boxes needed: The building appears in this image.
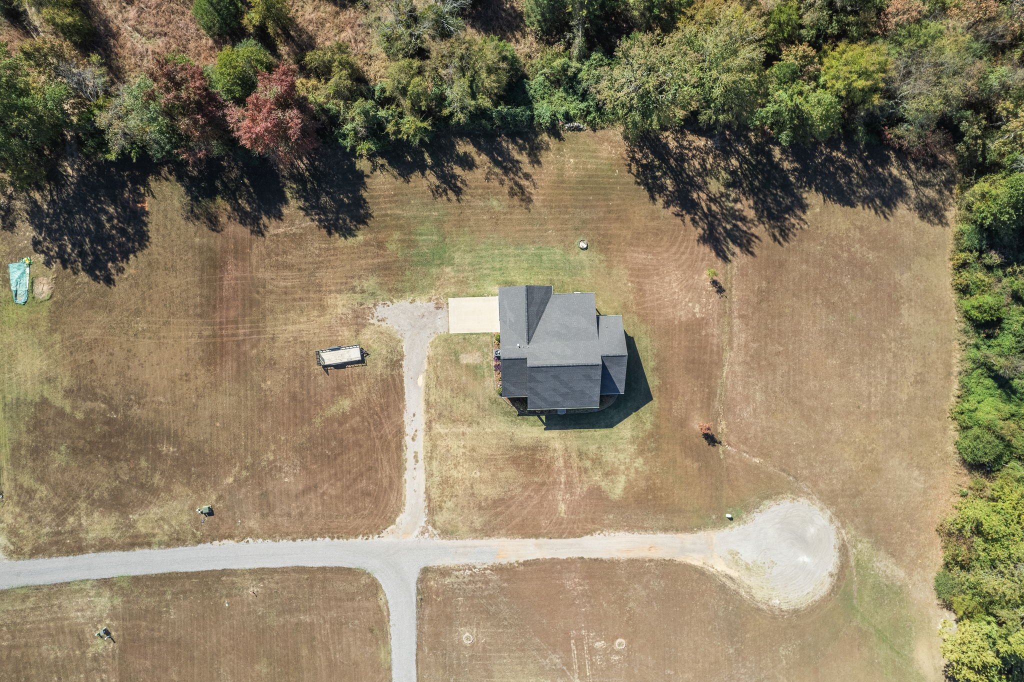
[498,285,627,411]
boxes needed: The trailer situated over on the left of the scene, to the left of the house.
[315,345,372,367]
